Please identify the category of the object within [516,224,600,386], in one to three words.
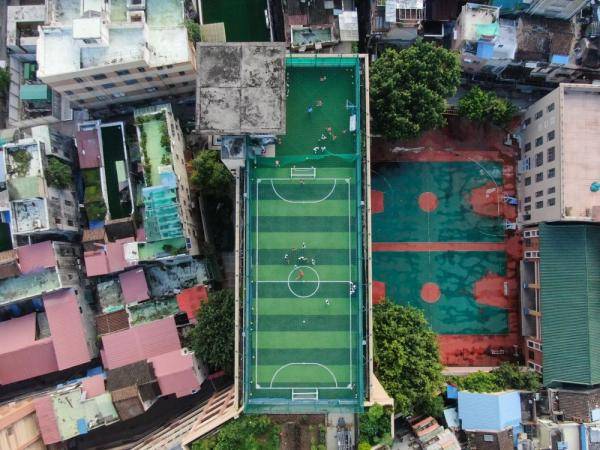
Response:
building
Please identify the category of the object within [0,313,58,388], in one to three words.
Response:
house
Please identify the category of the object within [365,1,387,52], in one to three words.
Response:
house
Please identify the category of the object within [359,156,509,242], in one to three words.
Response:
basketball court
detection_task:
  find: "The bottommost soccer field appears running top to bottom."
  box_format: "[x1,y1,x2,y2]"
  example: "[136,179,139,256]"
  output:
[249,168,357,401]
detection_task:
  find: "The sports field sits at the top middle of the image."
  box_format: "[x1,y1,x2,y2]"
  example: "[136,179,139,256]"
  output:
[250,66,357,167]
